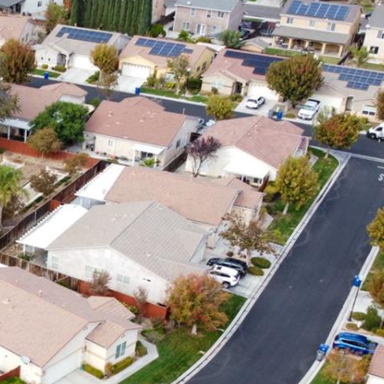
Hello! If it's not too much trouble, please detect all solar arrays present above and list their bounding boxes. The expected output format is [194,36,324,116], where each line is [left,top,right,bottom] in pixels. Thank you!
[285,0,351,18]
[323,64,384,83]
[134,38,189,55]
[58,26,113,43]
[224,50,281,77]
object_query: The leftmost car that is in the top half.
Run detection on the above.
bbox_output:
[247,97,264,111]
